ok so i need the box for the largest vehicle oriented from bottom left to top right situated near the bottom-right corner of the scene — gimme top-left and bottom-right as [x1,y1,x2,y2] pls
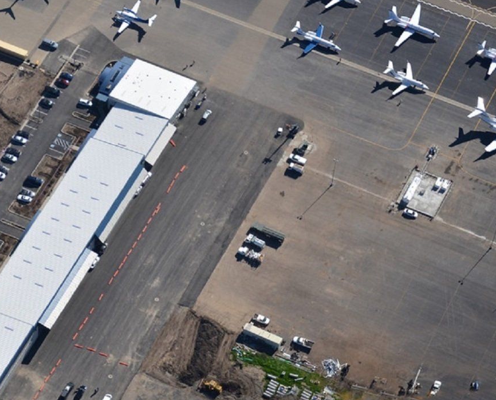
[427,381,443,396]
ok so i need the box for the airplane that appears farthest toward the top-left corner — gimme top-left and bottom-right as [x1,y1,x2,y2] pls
[116,0,159,33]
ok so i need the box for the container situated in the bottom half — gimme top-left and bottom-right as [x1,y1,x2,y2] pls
[243,324,282,350]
